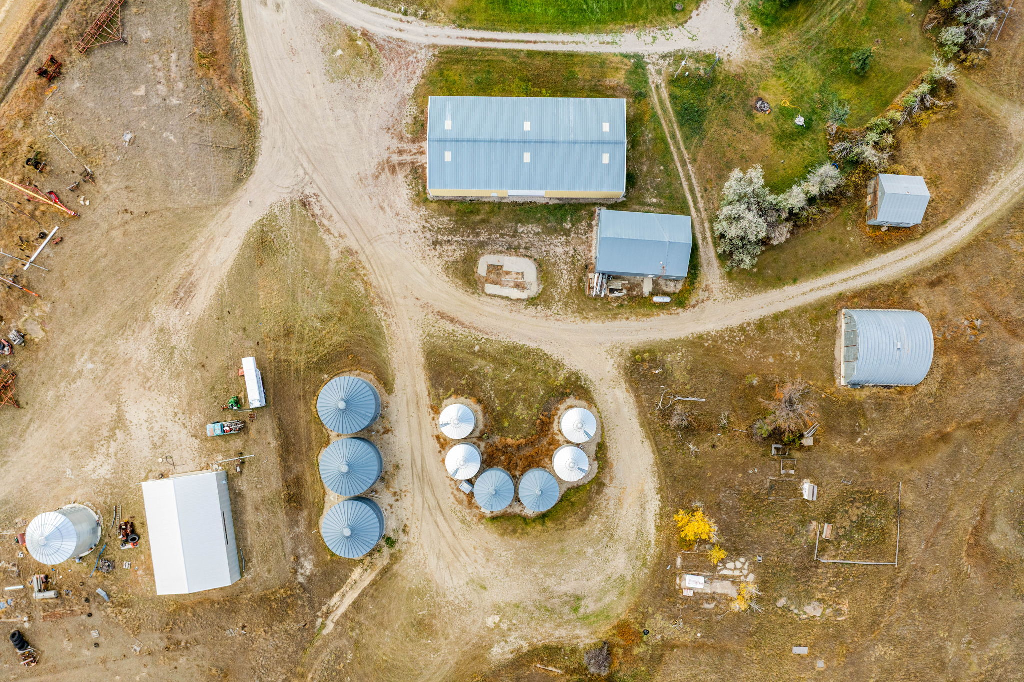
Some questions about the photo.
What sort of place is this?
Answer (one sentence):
The area seen from above is an industrial area.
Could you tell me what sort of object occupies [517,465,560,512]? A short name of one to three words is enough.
silo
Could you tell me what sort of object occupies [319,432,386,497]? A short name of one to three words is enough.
silo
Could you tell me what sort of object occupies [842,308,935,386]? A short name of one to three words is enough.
shed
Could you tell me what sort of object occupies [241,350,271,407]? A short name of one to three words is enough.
trailer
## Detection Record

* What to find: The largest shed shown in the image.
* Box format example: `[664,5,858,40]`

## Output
[427,95,628,197]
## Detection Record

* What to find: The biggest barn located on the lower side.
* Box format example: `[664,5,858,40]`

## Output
[136,462,240,596]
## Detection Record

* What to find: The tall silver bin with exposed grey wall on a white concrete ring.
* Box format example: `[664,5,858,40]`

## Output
[26,502,103,565]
